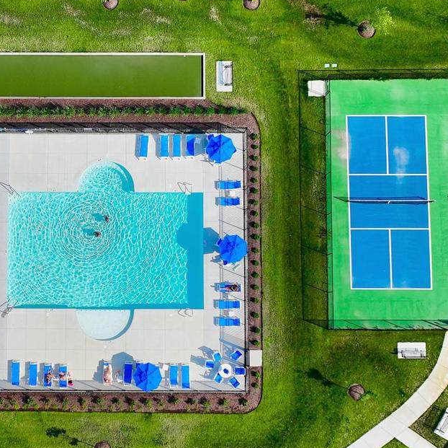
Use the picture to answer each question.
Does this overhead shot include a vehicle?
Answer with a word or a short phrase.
No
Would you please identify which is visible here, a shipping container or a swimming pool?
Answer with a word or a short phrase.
swimming pool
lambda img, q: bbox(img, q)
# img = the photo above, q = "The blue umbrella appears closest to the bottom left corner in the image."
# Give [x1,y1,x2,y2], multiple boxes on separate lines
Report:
[133,362,162,391]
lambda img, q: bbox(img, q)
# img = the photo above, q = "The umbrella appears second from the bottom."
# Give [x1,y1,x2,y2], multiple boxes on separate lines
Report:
[215,233,246,265]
